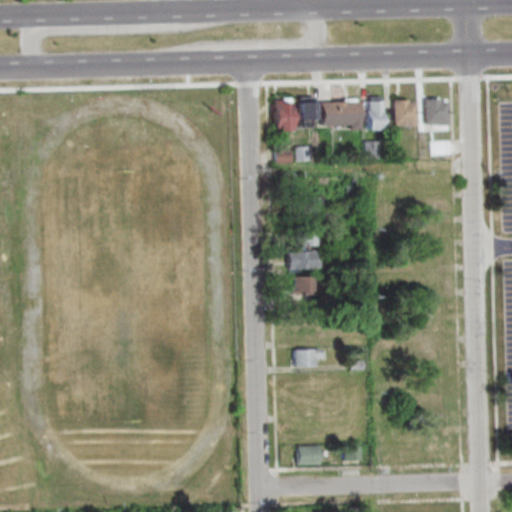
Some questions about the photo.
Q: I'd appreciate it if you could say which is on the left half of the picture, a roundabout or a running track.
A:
running track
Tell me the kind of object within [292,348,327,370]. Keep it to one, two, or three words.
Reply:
house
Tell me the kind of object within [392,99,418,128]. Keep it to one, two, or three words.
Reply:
house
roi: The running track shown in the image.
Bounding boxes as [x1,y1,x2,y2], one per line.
[18,90,230,496]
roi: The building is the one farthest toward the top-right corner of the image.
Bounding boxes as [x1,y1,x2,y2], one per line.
[423,96,450,124]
